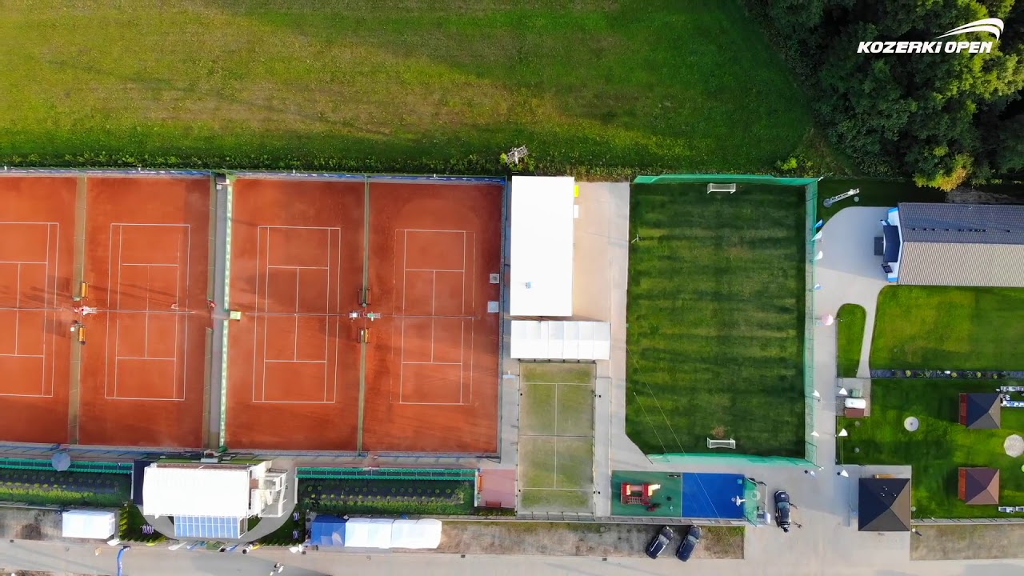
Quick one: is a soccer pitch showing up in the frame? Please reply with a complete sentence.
Yes, the photo shows a soccer pitch.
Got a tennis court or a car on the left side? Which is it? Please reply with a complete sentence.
What appears on the left side is a tennis court.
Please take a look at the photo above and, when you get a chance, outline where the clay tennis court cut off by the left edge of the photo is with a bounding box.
[0,178,86,441]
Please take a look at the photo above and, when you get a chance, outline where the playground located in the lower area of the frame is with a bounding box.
[611,471,682,518]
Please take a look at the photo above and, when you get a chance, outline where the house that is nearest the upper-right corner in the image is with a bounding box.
[876,200,1024,289]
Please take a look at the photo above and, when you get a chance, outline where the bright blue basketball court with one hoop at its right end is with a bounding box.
[681,472,745,519]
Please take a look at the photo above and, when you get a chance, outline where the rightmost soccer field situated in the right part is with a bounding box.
[628,184,804,458]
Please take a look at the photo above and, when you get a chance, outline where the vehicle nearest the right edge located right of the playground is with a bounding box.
[775,492,799,533]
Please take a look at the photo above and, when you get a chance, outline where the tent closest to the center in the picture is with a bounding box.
[510,321,610,360]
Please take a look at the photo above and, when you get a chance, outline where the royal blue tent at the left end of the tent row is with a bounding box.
[311,512,349,546]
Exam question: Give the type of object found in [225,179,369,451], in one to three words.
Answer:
tennis court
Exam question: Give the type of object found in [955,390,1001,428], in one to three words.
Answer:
gazebo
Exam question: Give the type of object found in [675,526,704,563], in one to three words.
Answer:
car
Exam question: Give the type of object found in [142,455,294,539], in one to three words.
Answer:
building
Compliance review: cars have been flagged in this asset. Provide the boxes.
[775,492,799,533]
[646,526,677,562]
[675,526,704,563]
